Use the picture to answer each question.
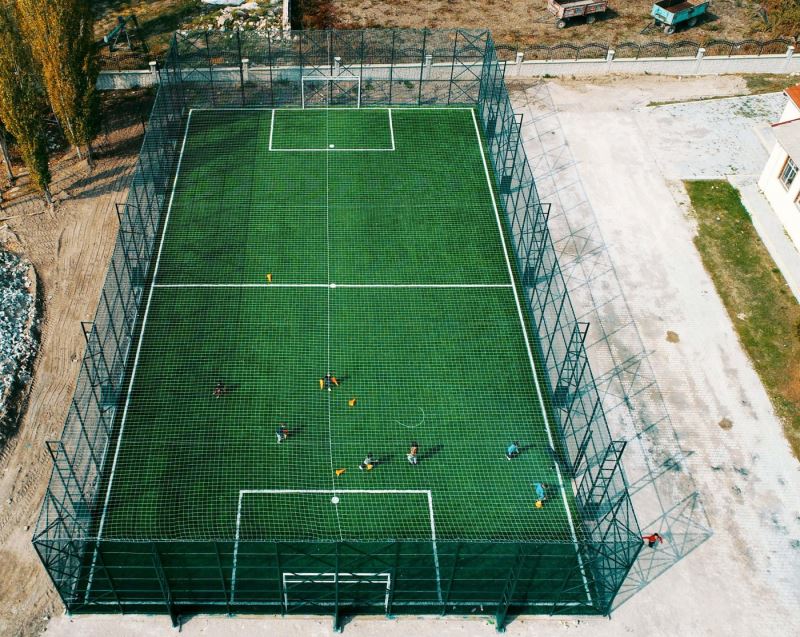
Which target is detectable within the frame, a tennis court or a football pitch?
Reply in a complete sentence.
This aerial view contains a football pitch.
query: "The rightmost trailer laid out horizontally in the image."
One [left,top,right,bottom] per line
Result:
[647,0,705,30]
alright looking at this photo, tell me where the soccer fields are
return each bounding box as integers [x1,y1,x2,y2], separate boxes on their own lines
[71,103,602,612]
